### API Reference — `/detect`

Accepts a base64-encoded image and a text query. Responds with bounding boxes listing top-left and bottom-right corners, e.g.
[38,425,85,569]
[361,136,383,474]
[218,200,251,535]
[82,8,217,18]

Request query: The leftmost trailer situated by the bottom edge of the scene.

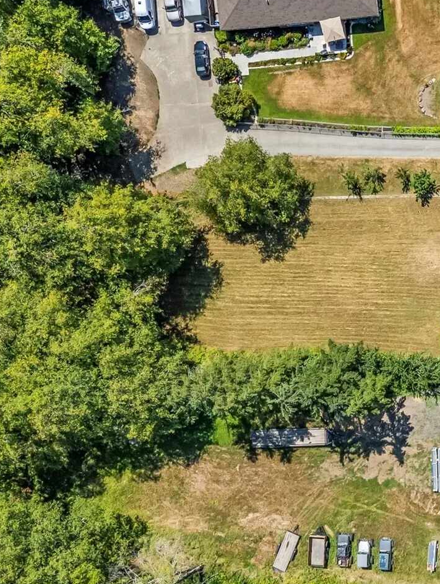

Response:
[272,524,303,575]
